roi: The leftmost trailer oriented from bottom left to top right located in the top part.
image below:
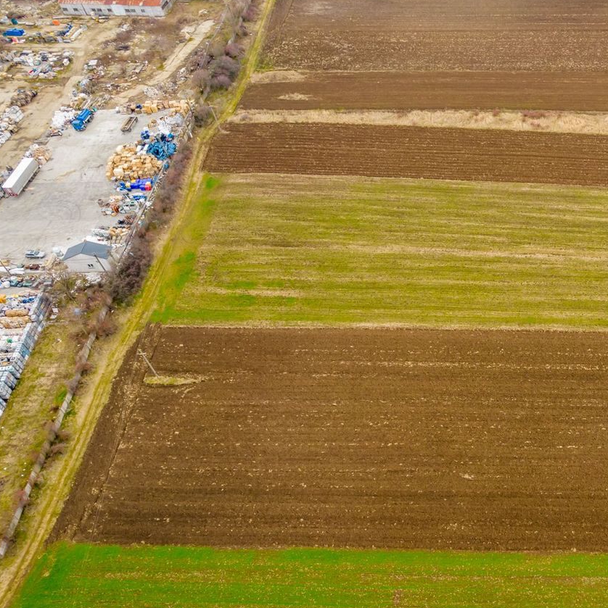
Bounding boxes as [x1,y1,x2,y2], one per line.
[2,157,40,199]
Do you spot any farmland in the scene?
Yes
